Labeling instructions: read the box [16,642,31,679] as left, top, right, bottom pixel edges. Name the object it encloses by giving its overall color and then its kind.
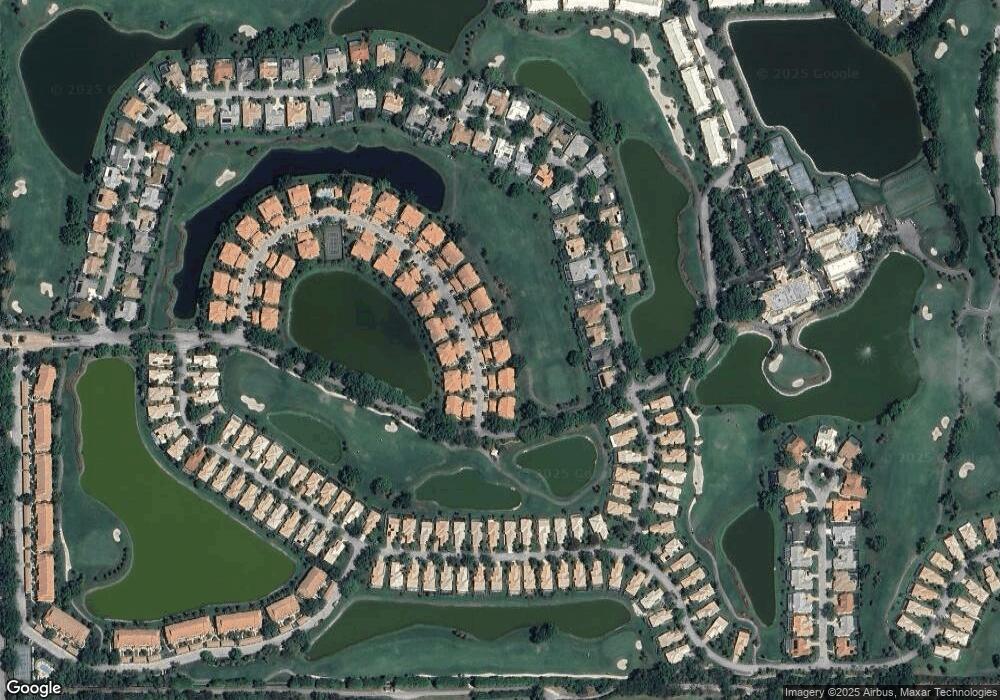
gray tennis court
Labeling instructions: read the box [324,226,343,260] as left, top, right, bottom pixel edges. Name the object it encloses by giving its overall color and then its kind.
gray tennis court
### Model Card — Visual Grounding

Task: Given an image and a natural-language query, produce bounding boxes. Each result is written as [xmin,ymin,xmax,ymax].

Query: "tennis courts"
[833,179,858,215]
[324,226,343,260]
[804,190,822,212]
[771,137,794,170]
[823,202,844,221]
[817,185,838,206]
[788,160,814,194]
[16,642,31,679]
